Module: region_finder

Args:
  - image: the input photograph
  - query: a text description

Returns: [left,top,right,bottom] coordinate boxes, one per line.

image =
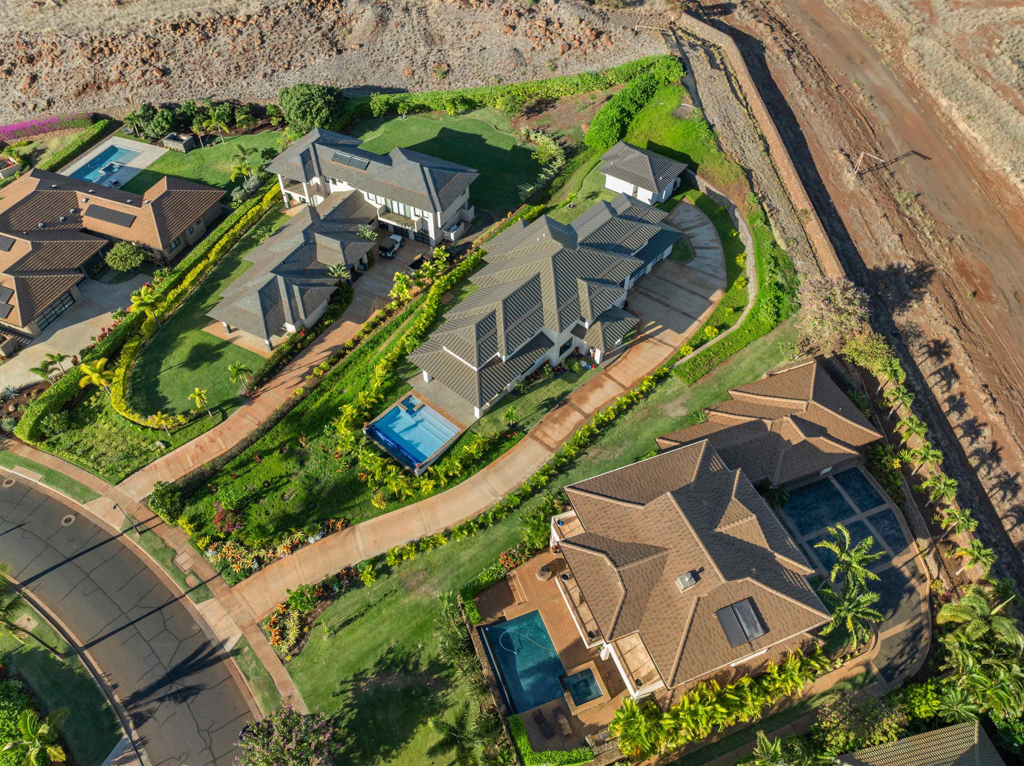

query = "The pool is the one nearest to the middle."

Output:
[357,390,468,477]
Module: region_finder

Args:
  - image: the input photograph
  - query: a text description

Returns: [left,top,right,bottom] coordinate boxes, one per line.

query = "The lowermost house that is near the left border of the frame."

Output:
[0,168,227,340]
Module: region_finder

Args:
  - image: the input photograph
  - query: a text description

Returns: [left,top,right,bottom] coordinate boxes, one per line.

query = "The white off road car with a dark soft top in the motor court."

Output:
[377,236,404,257]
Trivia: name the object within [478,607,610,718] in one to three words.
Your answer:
swimming pool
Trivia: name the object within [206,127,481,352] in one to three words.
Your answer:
house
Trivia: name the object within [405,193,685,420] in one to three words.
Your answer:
house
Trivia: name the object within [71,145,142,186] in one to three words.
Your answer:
swimming pool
